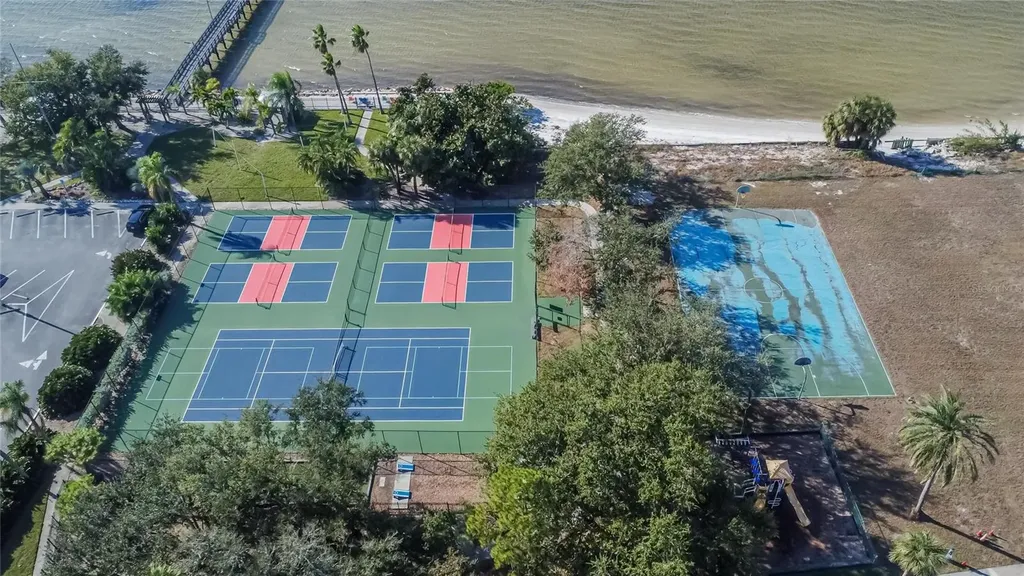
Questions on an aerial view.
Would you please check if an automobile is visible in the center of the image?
No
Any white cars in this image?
No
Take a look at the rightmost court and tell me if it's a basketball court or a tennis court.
basketball court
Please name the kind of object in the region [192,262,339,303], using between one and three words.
sports court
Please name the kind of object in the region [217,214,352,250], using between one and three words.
sports court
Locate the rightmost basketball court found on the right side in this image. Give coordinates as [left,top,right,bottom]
[665,209,895,396]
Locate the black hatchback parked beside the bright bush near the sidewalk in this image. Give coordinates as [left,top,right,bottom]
[124,207,152,236]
